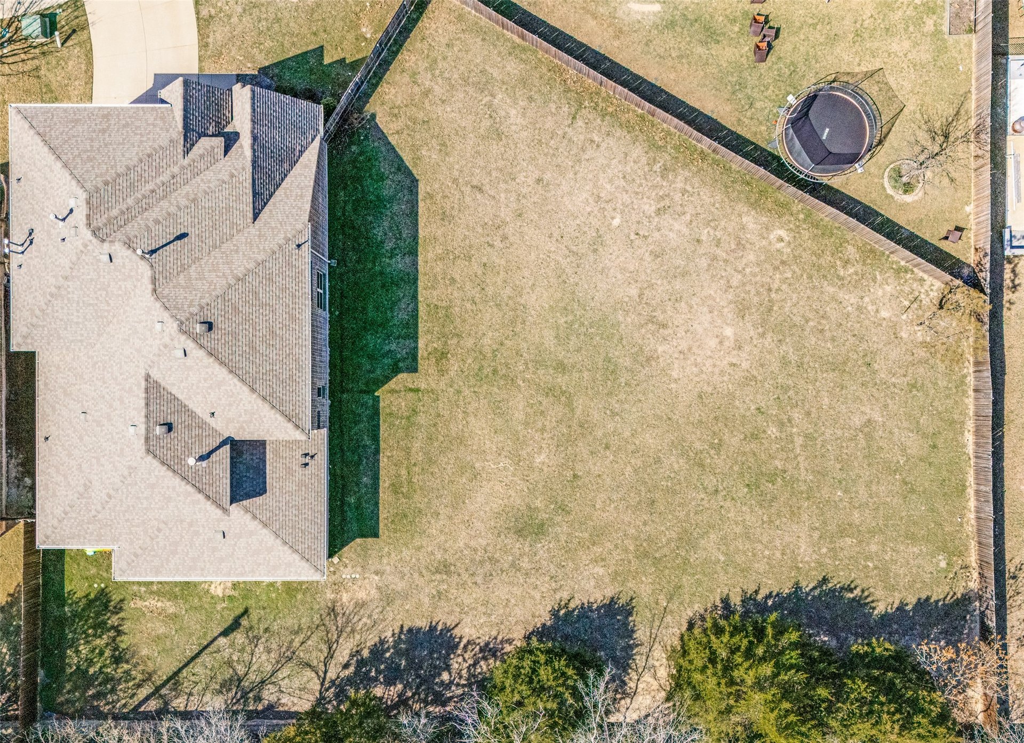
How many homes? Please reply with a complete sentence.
Altogether the scene contains 1 home.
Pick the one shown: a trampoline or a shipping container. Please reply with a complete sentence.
It is a trampoline that can be seen here.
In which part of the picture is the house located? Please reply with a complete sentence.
The house is in the left part of the image.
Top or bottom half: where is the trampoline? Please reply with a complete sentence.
The trampoline is in the top half of the image.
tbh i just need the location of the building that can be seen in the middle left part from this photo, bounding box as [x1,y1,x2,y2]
[4,78,335,583]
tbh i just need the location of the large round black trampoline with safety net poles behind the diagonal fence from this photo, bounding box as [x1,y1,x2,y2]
[769,81,887,183]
